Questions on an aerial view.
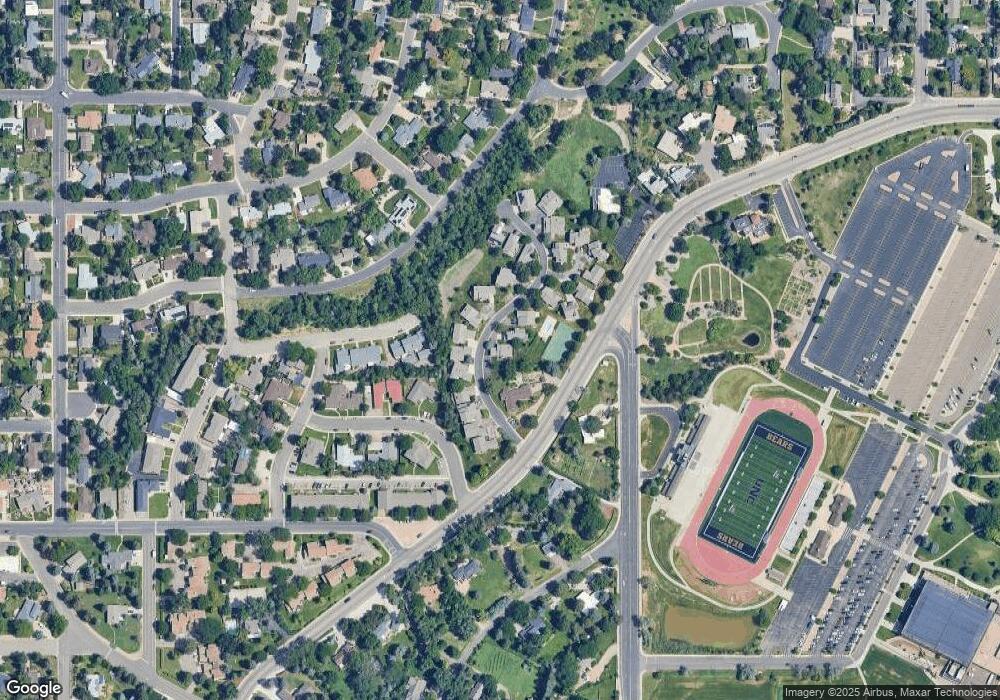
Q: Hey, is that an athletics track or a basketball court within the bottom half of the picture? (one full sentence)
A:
Looking within the bottom half of the picture, you will find an athletics track.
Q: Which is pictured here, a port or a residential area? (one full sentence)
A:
The area seen from above is a residential area.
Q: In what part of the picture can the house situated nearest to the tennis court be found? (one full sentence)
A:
The house situated nearest to the tennis court appears toward the center of the photo.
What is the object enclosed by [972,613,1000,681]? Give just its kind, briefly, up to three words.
building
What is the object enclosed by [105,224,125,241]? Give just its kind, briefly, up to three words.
house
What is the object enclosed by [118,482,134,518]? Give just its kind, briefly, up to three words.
house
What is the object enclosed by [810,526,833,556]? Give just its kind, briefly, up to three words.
building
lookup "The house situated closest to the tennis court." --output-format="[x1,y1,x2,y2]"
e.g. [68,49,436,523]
[562,295,583,321]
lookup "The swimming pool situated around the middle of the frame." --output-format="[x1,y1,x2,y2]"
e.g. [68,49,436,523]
[539,315,556,342]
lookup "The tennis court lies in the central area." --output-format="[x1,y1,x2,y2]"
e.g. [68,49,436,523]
[542,321,575,362]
